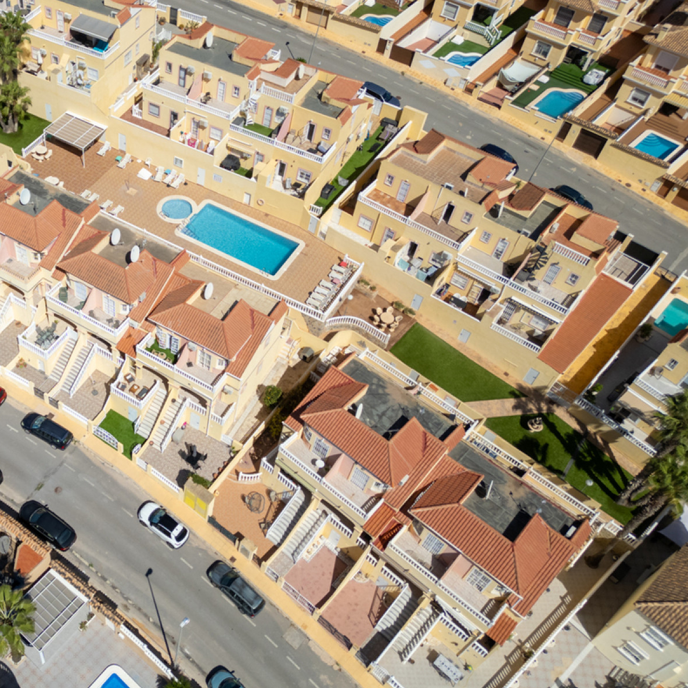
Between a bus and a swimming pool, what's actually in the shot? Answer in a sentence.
The one in the frame is a swimming pool.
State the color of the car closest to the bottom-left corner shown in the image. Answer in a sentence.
The car closest to the bottom-left corner is black.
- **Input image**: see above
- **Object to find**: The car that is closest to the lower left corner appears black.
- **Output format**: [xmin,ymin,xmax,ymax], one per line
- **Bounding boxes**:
[19,504,81,553]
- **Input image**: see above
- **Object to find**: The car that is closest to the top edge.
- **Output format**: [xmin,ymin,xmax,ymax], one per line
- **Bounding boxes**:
[363,78,403,107]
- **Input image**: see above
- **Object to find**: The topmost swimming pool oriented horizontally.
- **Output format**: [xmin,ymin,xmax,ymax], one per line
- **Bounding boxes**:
[360,13,394,28]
